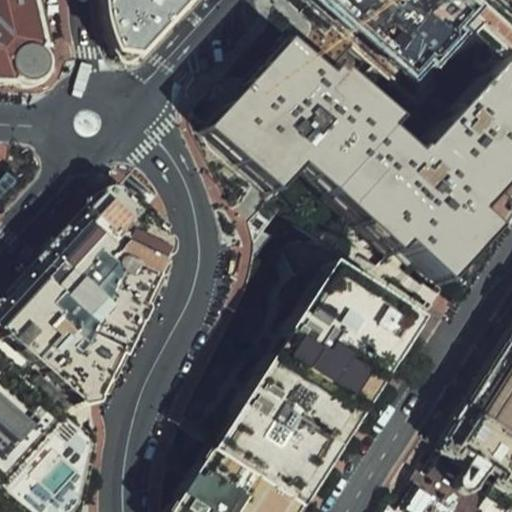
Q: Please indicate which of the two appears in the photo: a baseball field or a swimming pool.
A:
swimming pool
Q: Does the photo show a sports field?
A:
No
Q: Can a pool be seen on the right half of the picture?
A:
No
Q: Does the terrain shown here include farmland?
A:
No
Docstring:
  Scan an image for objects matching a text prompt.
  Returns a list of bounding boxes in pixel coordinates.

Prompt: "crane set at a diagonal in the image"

[263,0,400,94]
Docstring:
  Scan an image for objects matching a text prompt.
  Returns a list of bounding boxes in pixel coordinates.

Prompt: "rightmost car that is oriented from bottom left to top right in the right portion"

[402,396,416,412]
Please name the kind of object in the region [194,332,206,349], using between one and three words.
vehicle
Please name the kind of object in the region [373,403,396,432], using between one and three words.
truck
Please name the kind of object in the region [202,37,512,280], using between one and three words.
building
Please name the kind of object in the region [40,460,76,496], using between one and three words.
swimming pool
